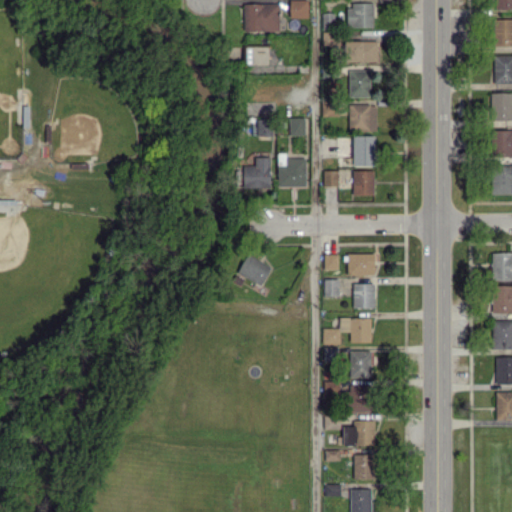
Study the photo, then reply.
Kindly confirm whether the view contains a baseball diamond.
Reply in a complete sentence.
Yes, a baseball diamond appears in the view.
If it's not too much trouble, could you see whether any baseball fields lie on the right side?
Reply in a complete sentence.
No, no baseball field is visible on the right side.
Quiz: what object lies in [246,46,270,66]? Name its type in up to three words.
building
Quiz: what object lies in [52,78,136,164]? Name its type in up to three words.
baseball field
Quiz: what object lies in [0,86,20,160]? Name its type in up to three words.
baseball field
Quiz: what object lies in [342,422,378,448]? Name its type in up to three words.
house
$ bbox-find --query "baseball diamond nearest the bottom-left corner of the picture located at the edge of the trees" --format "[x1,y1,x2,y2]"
[0,211,118,366]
